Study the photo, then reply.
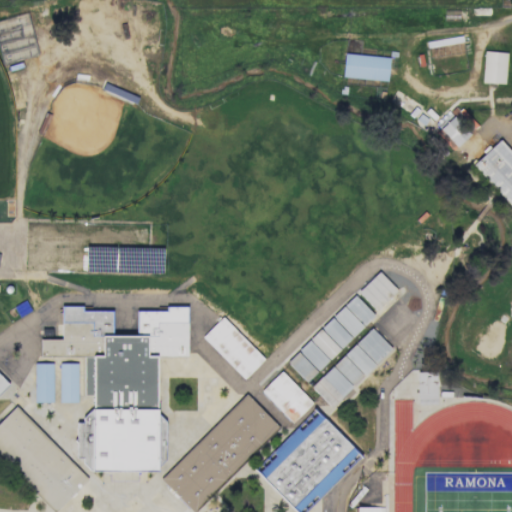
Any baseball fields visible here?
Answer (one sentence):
Yes, there's a baseball field here.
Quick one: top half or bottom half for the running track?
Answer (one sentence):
Seen from above, the running track lies in the bottom half of the view.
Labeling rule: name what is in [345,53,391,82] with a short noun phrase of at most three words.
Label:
barn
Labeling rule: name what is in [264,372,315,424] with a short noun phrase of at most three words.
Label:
building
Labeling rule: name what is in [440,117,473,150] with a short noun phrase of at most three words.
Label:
house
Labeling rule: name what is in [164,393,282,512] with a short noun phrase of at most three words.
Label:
building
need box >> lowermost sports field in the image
[414,467,512,512]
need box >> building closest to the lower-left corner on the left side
[0,405,90,512]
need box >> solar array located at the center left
[88,248,165,273]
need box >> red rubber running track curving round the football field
[396,400,512,512]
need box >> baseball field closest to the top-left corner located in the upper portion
[24,81,194,218]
